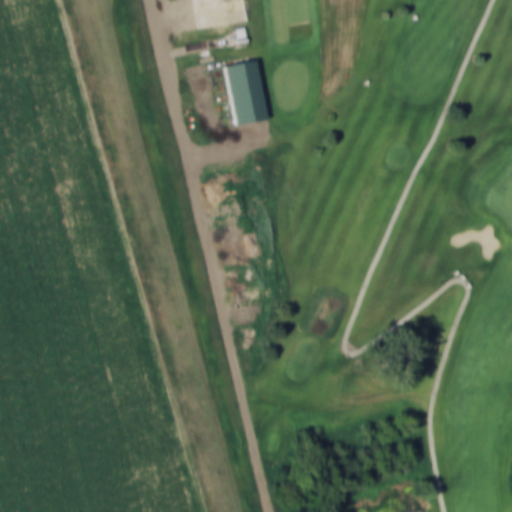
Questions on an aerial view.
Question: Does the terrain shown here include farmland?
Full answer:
Yes, some farmland is visible.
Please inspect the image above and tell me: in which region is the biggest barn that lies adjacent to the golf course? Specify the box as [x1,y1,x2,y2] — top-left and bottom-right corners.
[224,61,269,125]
